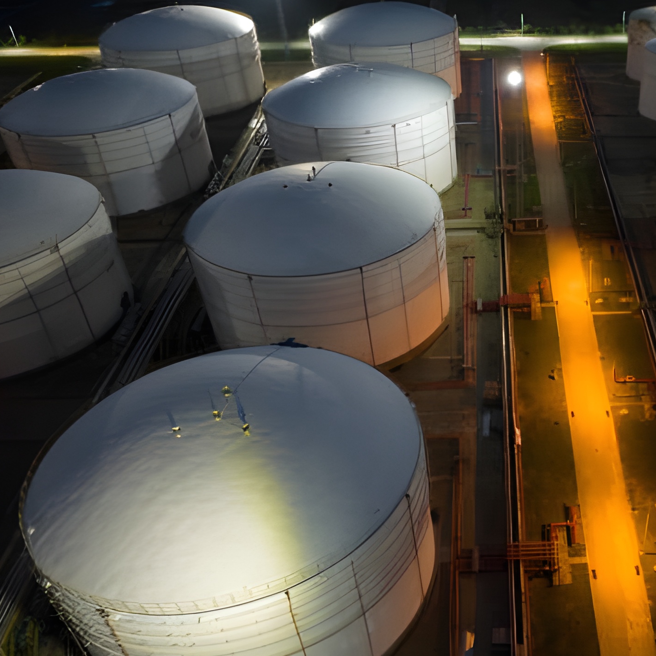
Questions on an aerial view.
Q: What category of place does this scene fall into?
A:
industrial area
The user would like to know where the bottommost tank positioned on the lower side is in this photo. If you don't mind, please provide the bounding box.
[0,337,439,656]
